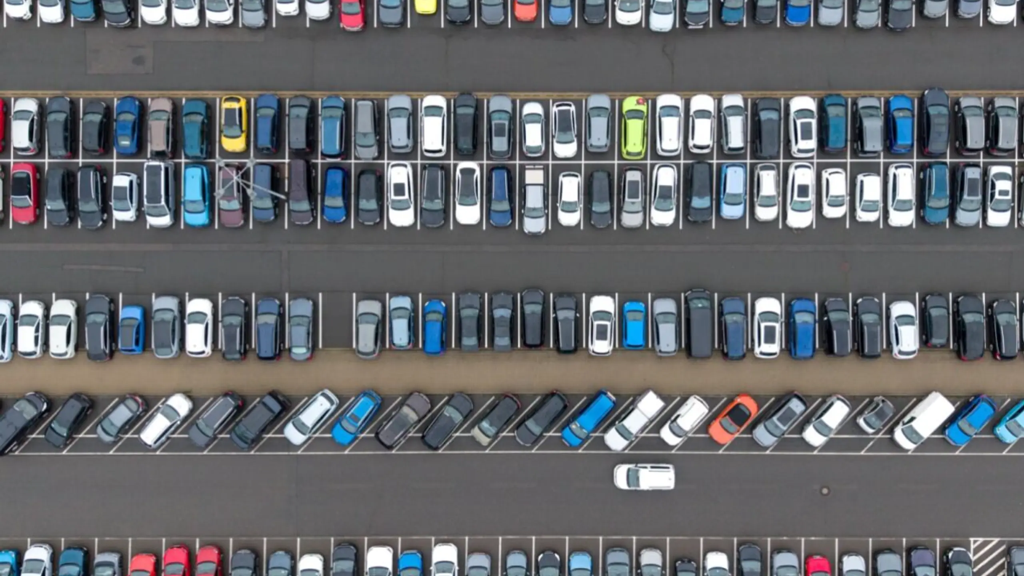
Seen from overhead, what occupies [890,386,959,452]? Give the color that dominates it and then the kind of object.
white van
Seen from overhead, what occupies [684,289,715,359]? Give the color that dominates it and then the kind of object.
gray van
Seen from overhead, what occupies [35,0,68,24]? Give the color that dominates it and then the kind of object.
white car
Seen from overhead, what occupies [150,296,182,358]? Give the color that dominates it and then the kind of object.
gray car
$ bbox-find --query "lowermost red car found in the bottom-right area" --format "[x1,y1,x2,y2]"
[803,555,831,576]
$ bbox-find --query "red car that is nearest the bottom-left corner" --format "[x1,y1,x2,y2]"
[127,553,158,576]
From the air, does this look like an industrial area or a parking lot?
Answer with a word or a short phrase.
parking lot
